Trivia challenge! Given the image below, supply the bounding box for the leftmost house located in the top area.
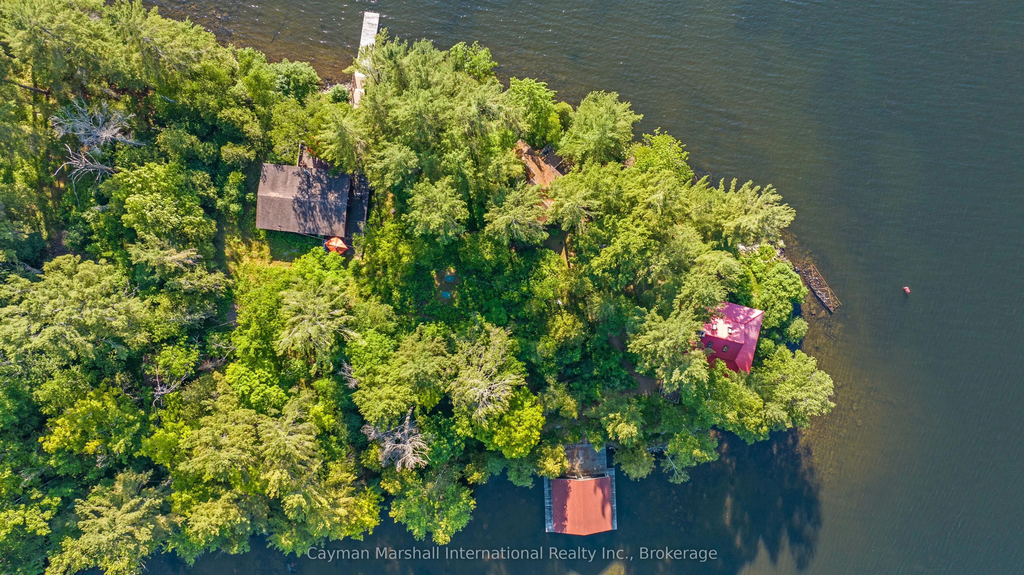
[256,163,352,237]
